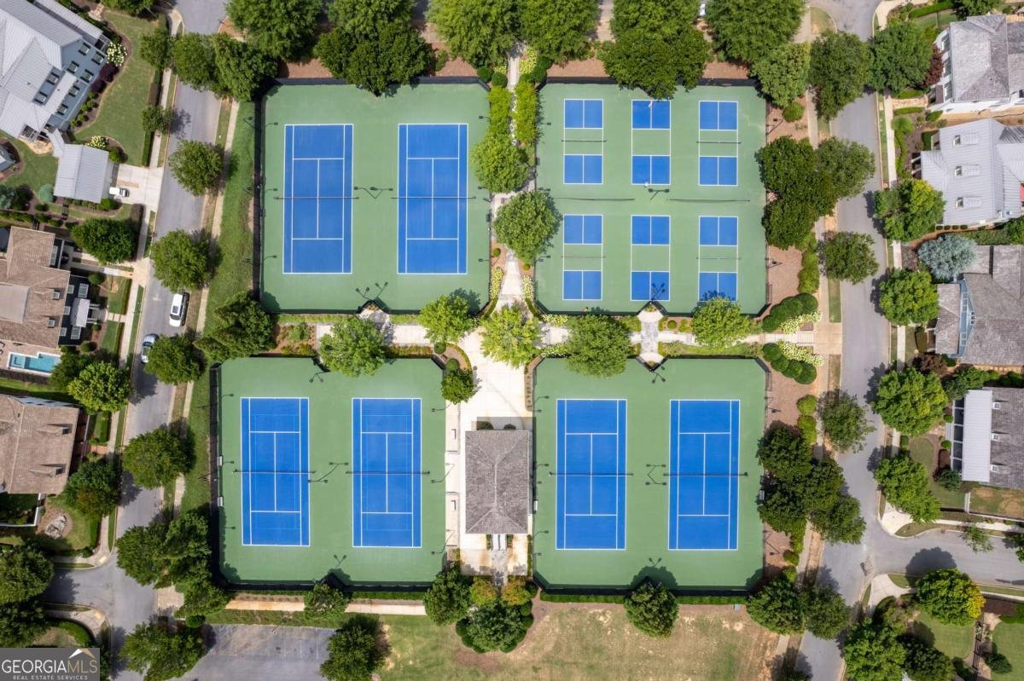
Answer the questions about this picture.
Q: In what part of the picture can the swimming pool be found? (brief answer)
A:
left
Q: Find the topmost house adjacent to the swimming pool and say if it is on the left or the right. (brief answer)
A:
left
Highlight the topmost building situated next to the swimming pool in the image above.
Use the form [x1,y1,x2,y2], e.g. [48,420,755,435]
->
[0,224,101,348]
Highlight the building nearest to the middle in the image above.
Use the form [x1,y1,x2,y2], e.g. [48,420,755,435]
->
[465,429,529,551]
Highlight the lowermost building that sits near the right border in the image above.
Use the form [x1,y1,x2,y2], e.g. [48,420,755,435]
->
[942,387,1024,490]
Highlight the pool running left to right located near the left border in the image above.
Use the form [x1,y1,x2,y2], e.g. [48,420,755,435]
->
[7,352,56,376]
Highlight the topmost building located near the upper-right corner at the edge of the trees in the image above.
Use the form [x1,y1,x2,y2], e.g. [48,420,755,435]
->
[925,14,1024,112]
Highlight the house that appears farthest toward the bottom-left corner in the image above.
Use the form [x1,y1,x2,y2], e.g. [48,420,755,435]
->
[0,390,90,495]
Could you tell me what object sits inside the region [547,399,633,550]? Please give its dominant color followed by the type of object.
blue tennis court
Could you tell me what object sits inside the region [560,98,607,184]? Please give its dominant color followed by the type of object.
blue sports court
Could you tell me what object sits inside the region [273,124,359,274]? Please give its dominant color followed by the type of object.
blue tennis court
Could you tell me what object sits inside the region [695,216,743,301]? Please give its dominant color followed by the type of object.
blue sports court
